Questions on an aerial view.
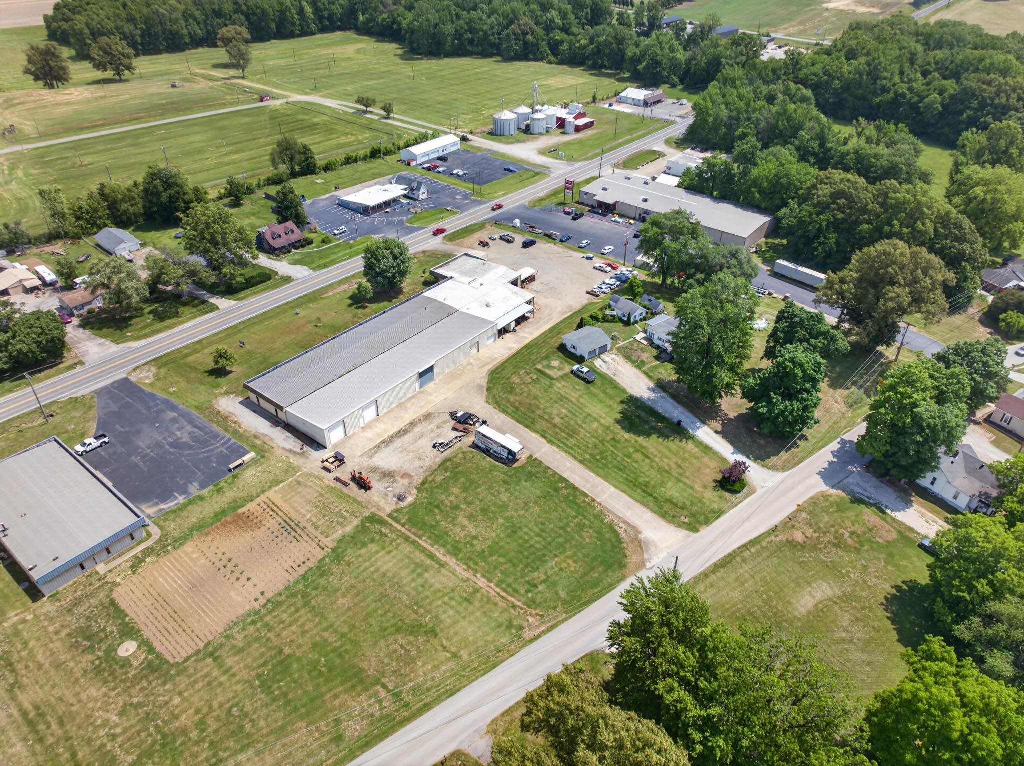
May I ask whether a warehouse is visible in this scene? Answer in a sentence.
Yes, this view includes a warehouse.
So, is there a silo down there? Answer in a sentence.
Yes, the image includes a silo.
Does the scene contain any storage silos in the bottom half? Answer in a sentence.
No, I see no storage silo in the bottom half.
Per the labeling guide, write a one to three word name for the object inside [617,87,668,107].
building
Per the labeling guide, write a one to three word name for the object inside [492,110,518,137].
silo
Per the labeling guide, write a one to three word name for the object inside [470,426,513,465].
trailer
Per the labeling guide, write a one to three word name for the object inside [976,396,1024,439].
house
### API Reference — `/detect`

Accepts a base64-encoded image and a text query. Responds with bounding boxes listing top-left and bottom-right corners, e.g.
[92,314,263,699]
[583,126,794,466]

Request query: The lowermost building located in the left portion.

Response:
[0,430,146,595]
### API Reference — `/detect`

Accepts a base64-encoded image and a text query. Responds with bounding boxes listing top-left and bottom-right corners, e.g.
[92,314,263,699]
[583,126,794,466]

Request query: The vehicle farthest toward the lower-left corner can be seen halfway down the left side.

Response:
[77,435,108,454]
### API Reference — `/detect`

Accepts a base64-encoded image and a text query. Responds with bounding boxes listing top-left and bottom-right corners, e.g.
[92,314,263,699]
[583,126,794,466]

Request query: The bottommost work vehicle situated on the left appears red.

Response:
[355,471,373,489]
